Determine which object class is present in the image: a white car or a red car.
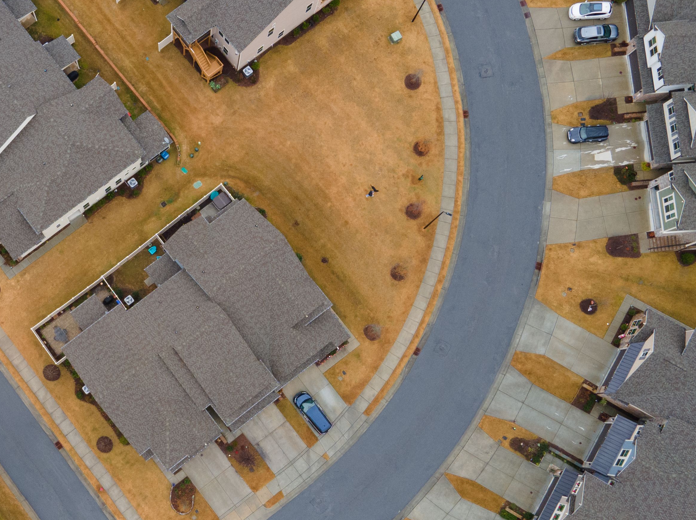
white car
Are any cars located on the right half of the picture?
Yes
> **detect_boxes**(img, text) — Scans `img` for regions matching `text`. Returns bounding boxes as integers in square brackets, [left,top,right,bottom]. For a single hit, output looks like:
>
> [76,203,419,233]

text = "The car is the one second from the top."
[571,23,619,47]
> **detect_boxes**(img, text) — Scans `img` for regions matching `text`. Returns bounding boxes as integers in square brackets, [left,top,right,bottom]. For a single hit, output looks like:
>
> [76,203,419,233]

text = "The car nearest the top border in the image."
[566,0,613,23]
